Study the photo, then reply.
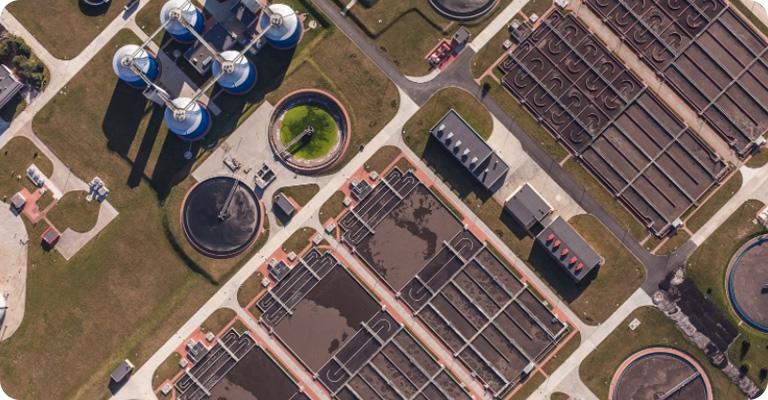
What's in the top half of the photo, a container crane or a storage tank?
storage tank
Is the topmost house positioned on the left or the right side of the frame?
left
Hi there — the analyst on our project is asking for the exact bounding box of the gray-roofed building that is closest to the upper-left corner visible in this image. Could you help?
[0,62,31,118]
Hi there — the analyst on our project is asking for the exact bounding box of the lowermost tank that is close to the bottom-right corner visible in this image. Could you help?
[610,347,715,400]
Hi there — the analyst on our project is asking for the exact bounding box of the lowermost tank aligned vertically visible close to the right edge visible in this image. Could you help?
[725,233,768,334]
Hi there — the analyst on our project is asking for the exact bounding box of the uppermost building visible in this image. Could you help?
[225,0,260,29]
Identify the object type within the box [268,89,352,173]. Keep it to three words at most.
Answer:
storage tank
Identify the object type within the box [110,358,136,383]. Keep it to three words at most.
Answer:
shed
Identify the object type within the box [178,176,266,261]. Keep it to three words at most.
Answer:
storage tank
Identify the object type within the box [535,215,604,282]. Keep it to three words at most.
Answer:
building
